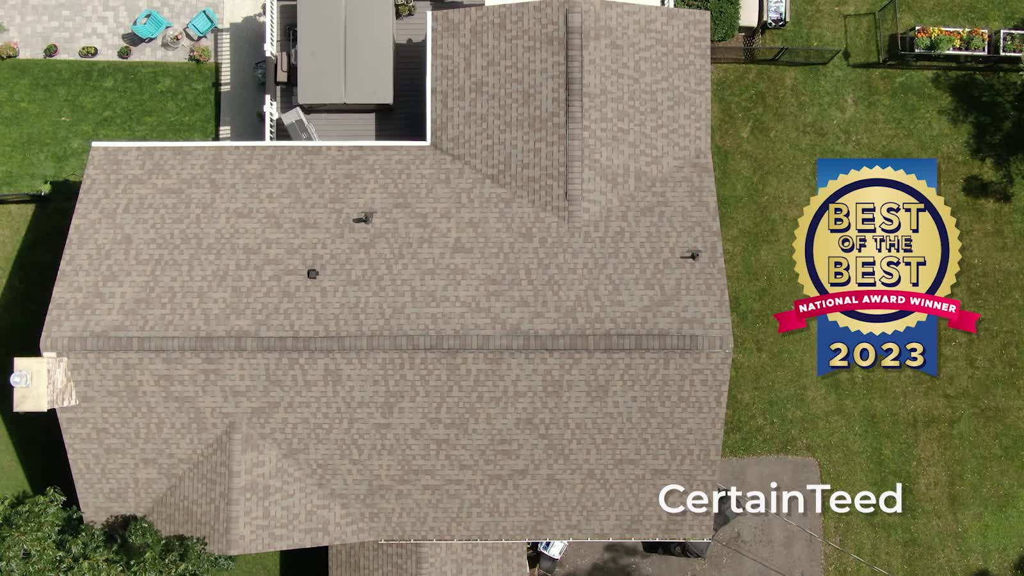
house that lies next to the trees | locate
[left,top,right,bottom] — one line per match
[9,0,734,576]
